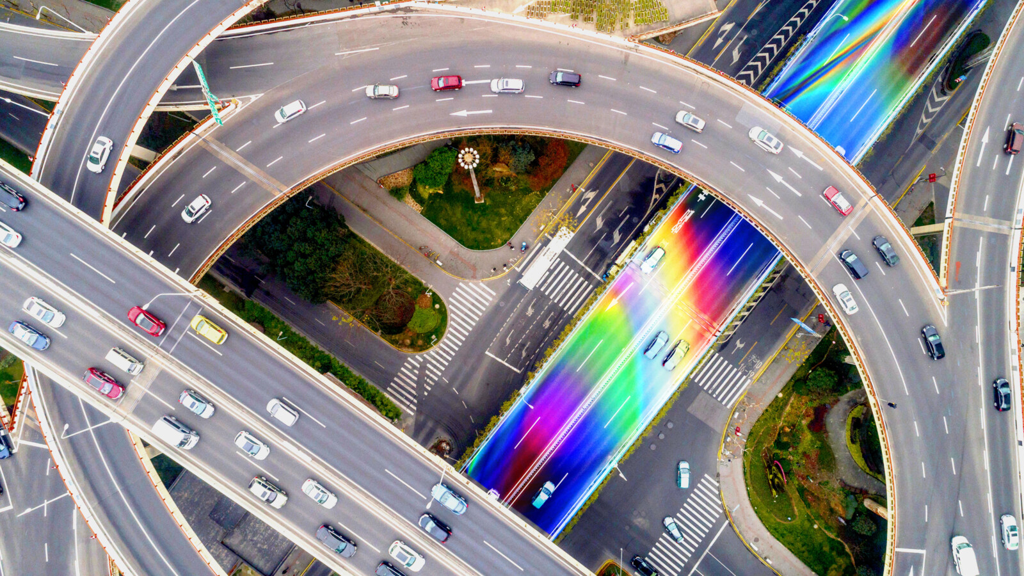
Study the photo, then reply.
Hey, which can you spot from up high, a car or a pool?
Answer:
car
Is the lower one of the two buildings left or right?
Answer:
left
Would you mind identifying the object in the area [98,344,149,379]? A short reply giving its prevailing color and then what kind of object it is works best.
white van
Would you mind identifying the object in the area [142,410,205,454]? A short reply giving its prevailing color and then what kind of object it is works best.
white vehicle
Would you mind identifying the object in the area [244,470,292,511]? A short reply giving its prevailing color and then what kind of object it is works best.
white car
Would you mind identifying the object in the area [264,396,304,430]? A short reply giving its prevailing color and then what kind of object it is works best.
white car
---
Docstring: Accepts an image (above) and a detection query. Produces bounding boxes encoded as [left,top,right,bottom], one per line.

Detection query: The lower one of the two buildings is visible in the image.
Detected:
[226,529,300,576]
